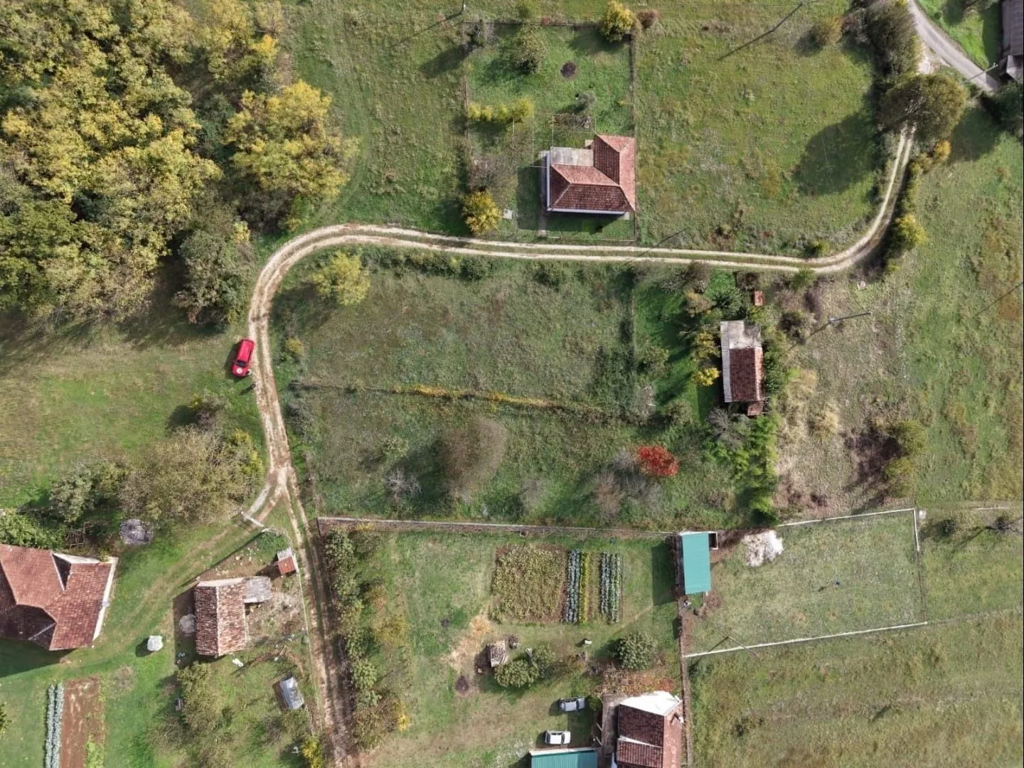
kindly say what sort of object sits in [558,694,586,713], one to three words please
car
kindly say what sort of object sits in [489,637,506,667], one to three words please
shed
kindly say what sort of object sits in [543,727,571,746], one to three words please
car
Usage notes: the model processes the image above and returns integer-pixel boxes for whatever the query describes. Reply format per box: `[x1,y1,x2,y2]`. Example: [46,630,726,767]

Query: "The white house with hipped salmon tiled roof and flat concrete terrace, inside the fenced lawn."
[547,134,636,221]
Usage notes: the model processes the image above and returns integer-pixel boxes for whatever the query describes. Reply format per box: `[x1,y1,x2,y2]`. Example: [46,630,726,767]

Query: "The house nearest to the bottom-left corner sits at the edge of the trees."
[0,544,117,652]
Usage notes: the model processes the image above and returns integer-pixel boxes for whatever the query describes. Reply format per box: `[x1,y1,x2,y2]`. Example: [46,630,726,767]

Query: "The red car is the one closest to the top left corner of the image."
[231,338,256,379]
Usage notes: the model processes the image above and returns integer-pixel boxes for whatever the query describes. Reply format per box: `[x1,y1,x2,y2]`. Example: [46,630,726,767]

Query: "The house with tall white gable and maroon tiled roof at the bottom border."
[591,680,684,768]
